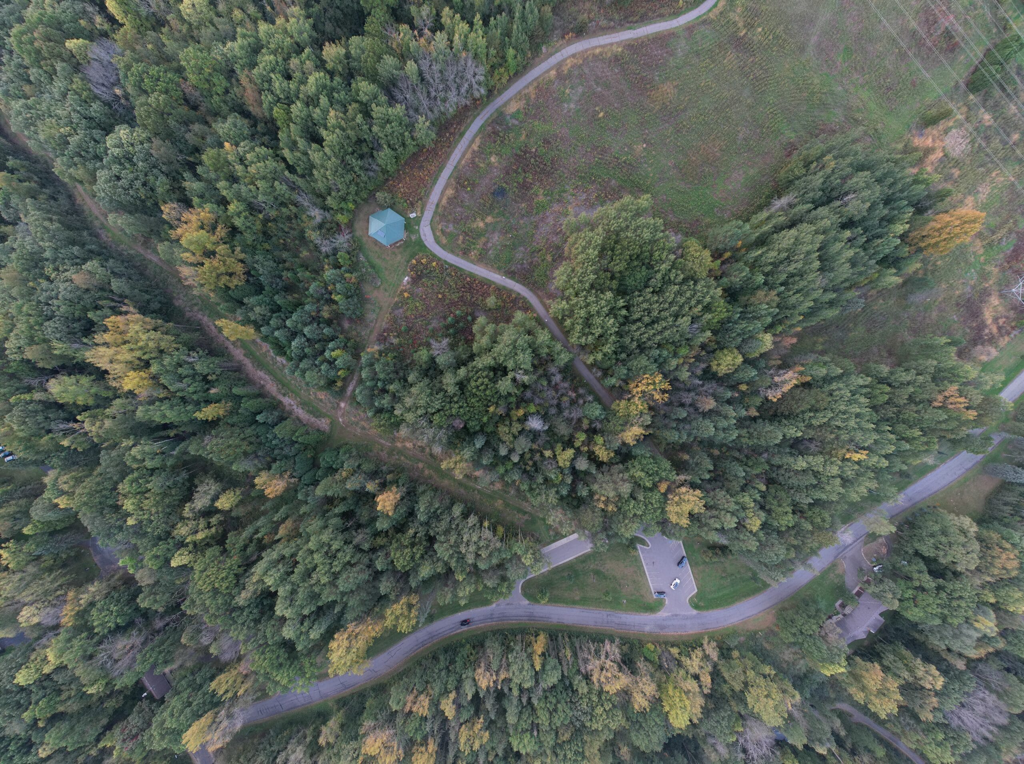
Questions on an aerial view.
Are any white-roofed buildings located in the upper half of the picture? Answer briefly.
No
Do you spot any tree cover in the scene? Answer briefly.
Yes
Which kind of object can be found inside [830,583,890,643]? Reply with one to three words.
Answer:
house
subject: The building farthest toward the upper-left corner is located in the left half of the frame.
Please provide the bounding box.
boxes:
[368,208,407,248]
